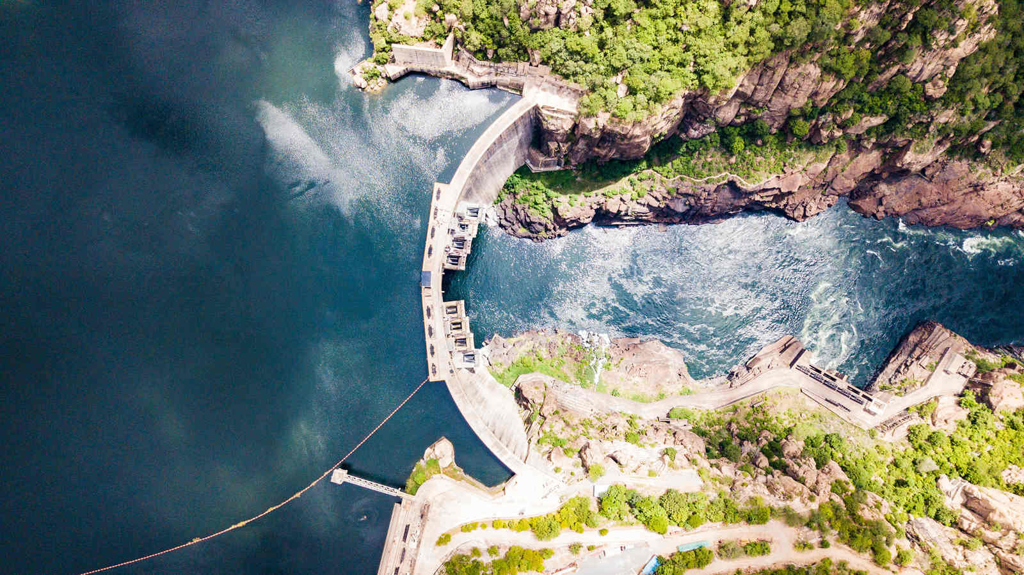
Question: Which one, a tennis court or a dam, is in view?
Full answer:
The one in the frame is a dam.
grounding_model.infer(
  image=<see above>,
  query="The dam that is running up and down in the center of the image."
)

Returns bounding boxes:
[422,97,539,475]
